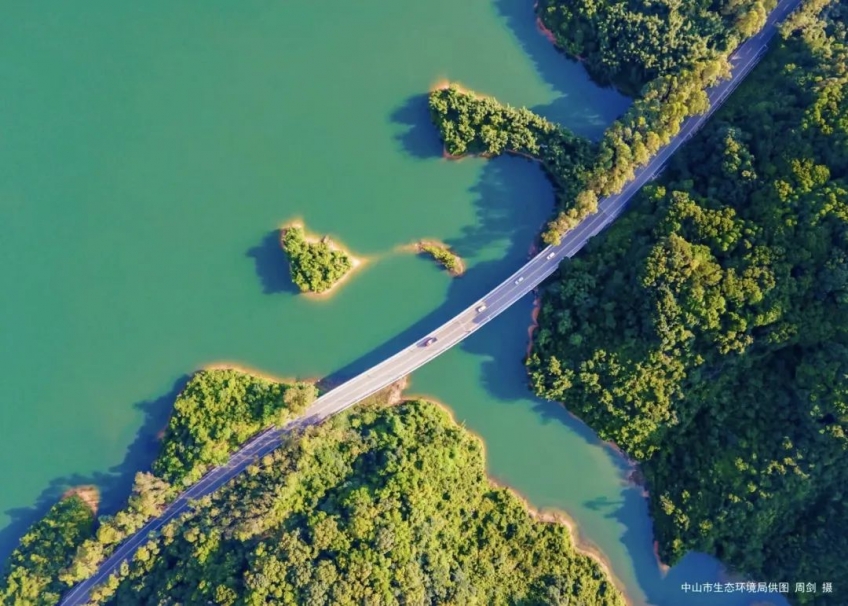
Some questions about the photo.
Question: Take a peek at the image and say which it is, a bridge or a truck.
bridge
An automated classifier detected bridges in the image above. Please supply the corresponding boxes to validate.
[293,203,613,430]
